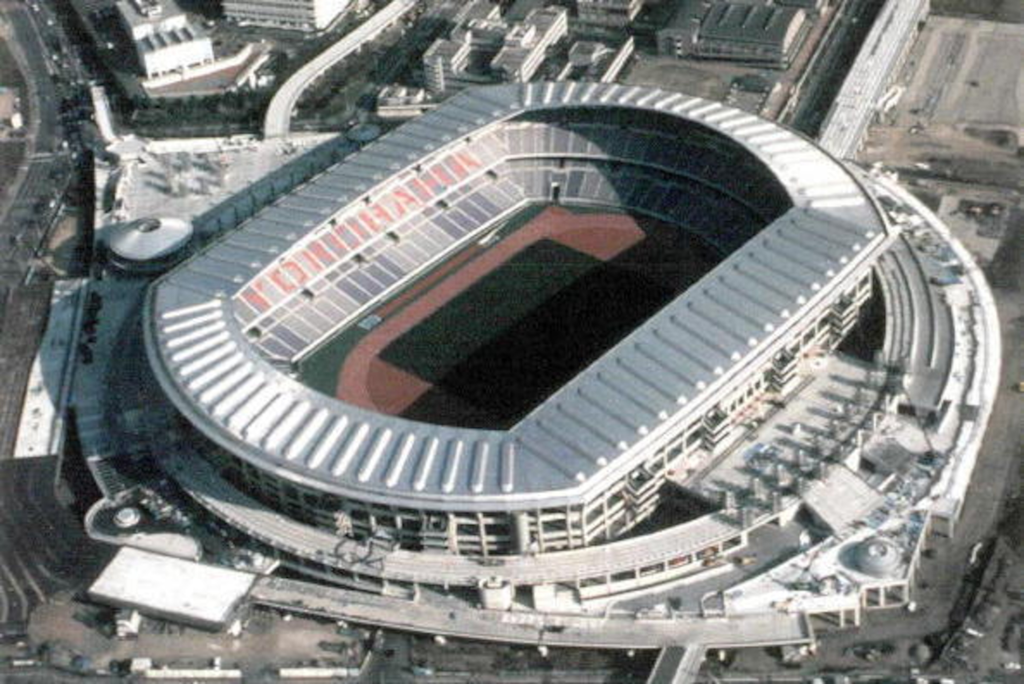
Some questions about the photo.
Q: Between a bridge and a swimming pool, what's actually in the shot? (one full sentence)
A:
This aerial view contains a bridge.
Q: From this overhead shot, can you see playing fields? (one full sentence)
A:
Yes, the frame does contain a playing field.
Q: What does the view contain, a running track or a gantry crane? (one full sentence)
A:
The one in the frame is a running track.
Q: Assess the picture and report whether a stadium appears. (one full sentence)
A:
Yes, the picture does show a stadium.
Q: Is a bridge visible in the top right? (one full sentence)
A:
Yes, you'll find a bridge in the top right.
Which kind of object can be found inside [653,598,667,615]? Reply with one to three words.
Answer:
vehicle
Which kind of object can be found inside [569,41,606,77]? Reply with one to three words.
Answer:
house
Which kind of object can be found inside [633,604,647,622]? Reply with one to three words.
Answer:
vehicle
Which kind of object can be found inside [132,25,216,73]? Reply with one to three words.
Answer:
building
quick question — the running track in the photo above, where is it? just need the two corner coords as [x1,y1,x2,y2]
[338,215,703,430]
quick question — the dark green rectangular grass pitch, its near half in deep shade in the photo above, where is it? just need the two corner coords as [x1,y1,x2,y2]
[377,238,674,422]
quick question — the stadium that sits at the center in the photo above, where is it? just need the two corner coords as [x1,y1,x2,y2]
[151,83,887,559]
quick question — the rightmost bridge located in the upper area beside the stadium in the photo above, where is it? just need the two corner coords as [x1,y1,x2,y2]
[818,0,929,165]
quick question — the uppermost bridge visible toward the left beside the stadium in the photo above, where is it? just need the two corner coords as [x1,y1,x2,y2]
[264,0,417,137]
